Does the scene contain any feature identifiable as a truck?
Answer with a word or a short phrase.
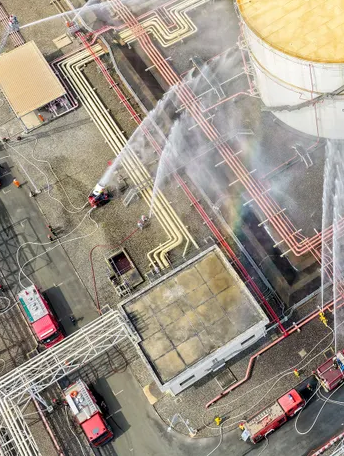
Yes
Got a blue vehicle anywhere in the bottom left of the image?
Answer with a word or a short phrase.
No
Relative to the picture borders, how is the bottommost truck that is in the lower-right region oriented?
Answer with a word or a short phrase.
diagonally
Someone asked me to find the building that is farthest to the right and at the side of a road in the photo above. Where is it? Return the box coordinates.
[119,246,267,391]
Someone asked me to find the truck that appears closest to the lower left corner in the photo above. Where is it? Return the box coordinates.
[64,380,115,455]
